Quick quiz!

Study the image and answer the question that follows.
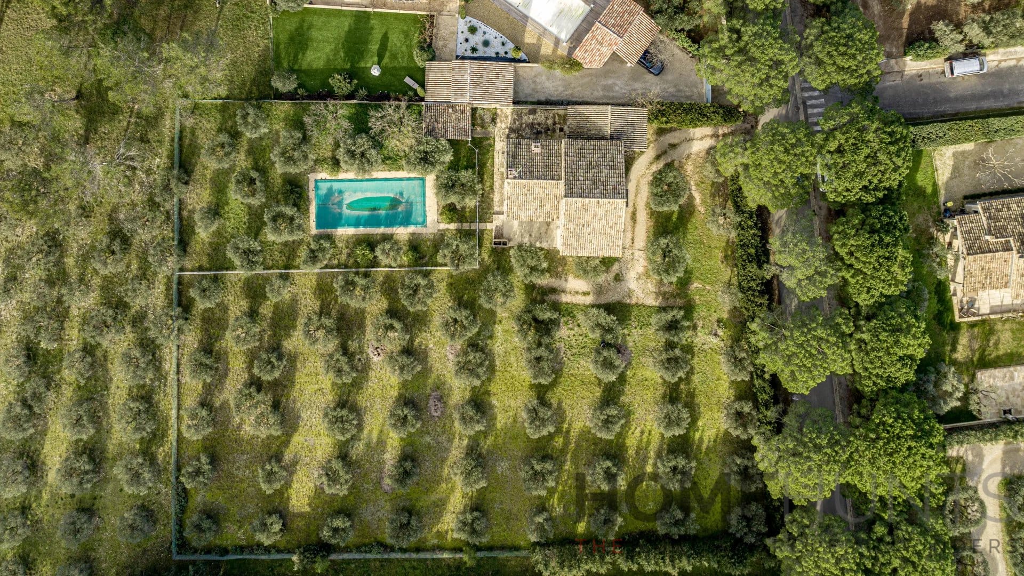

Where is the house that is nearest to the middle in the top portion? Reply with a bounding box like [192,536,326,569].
[493,139,631,257]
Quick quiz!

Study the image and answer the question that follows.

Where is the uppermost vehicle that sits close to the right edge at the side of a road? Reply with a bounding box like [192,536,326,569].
[941,55,987,79]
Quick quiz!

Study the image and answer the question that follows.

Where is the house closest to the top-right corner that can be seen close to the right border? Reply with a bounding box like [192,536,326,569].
[937,196,1024,323]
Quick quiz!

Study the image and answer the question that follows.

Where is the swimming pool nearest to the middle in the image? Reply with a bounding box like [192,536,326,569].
[309,171,437,234]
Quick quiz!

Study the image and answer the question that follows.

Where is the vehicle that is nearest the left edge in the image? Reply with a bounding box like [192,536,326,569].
[637,48,667,79]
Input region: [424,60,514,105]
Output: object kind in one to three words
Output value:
shed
